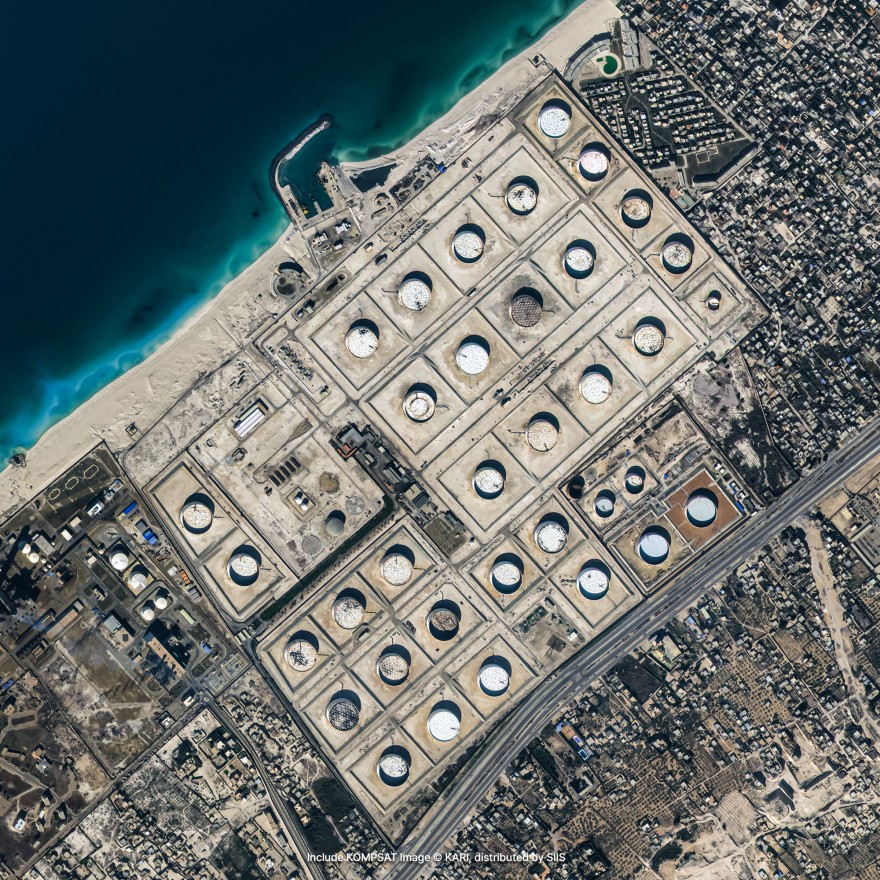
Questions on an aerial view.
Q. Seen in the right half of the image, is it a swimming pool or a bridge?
swimming pool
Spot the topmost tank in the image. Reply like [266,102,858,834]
[536,104,571,150]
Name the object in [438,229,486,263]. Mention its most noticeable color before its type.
white storage tank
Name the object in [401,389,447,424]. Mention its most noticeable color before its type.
white storage tank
